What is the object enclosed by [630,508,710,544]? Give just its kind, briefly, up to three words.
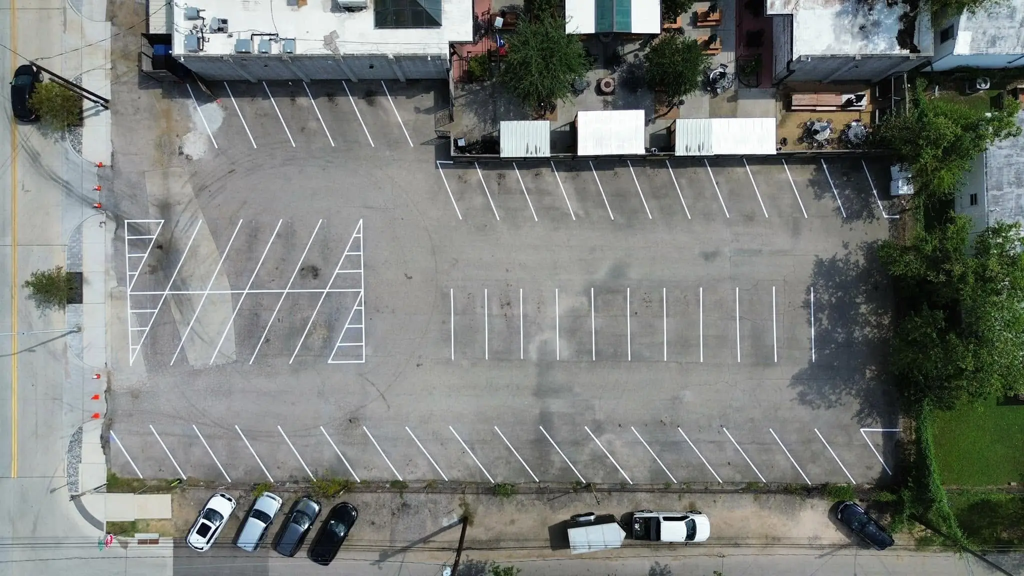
truck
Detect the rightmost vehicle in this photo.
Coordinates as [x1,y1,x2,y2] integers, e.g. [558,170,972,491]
[832,500,893,554]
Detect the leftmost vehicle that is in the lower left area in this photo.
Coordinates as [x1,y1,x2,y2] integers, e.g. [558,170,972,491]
[187,488,238,552]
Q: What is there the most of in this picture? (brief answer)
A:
paved ground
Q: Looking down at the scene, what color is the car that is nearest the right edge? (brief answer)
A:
black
